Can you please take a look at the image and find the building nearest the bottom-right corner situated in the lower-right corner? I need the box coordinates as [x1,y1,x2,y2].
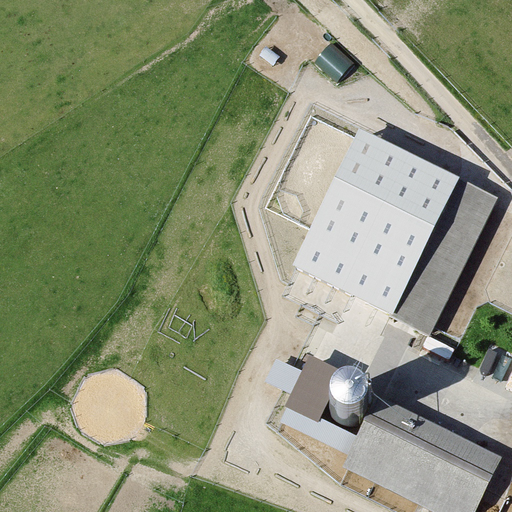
[342,394,502,512]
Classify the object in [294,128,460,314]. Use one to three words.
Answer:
barn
